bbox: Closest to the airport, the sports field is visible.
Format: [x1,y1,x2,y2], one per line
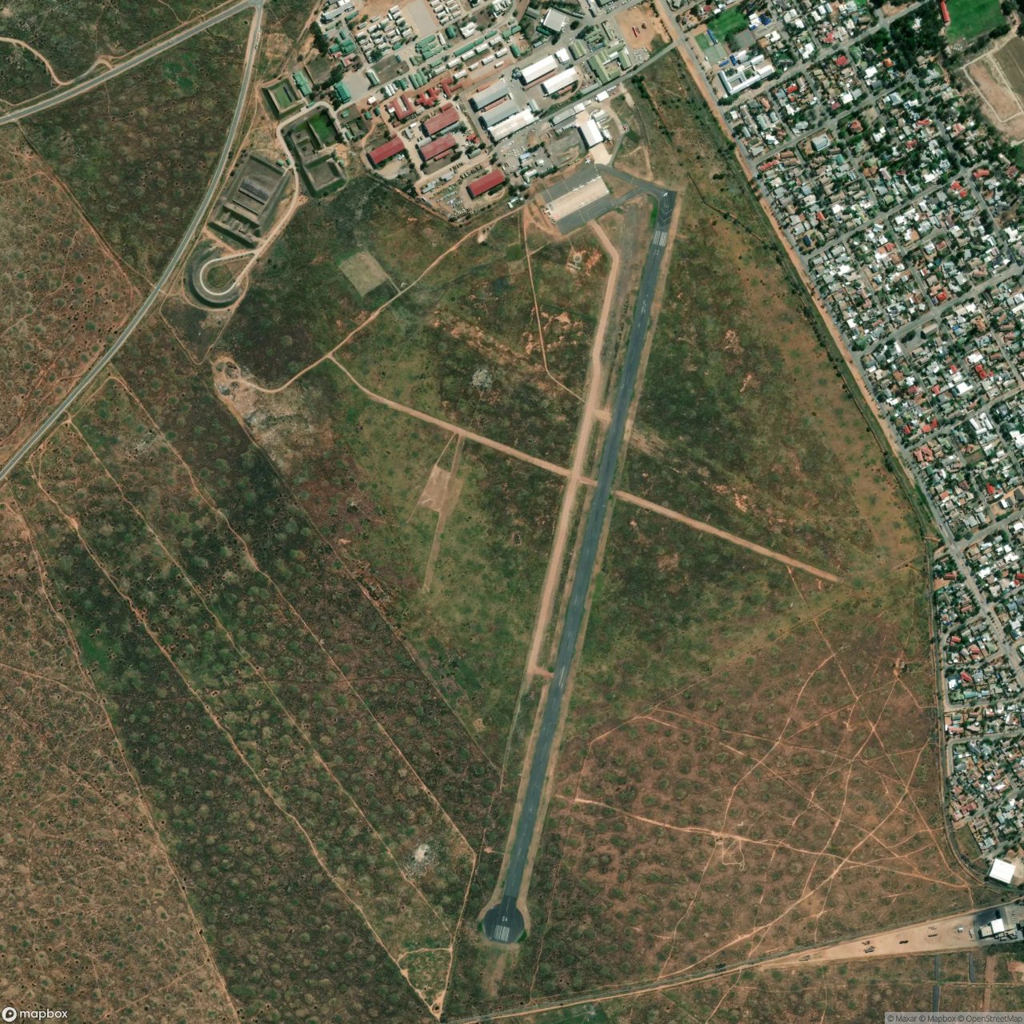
[709,6,749,44]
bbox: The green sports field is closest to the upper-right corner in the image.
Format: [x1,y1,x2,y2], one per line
[948,0,1005,46]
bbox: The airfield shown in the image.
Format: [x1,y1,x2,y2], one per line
[327,111,838,993]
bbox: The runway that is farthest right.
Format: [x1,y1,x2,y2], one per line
[613,490,838,584]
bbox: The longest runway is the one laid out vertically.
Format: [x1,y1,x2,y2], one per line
[484,188,677,944]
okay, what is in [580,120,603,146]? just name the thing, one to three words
hangar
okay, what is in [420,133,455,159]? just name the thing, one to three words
building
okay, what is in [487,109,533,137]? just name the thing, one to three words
building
